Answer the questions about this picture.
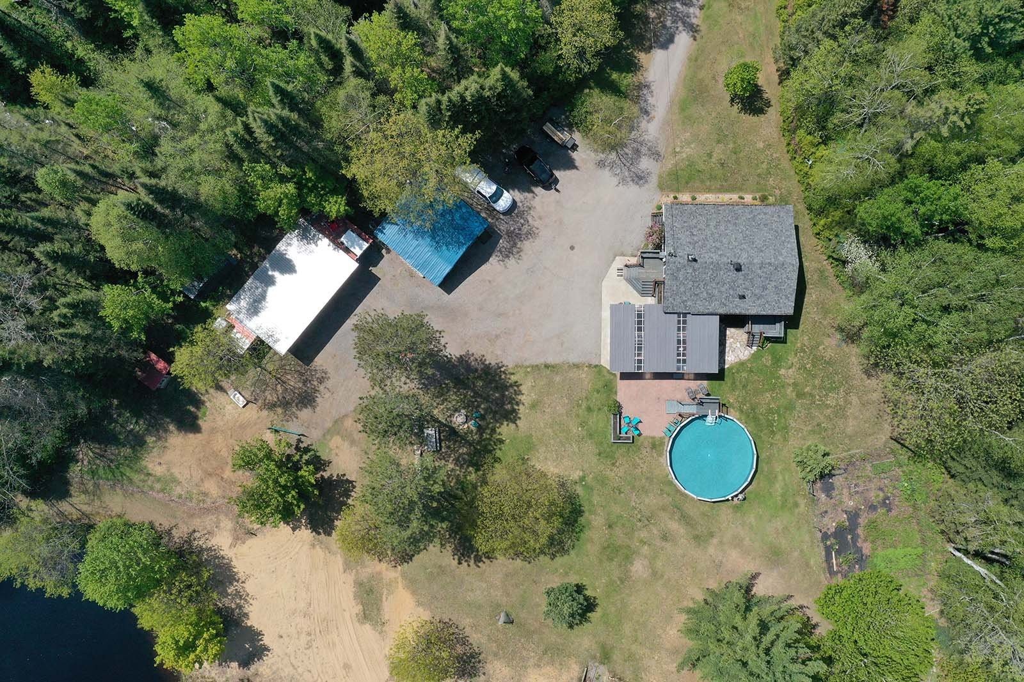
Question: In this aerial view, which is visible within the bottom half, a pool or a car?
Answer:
pool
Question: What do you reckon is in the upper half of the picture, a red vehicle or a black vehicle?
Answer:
black vehicle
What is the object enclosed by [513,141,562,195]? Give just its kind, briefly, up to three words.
car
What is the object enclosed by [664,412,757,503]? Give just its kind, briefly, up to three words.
swimming pool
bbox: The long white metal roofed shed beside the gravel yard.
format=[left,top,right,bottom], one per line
[230,219,361,356]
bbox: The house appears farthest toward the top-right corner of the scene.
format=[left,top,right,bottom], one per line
[661,203,799,316]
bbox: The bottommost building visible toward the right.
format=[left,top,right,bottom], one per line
[608,304,719,373]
